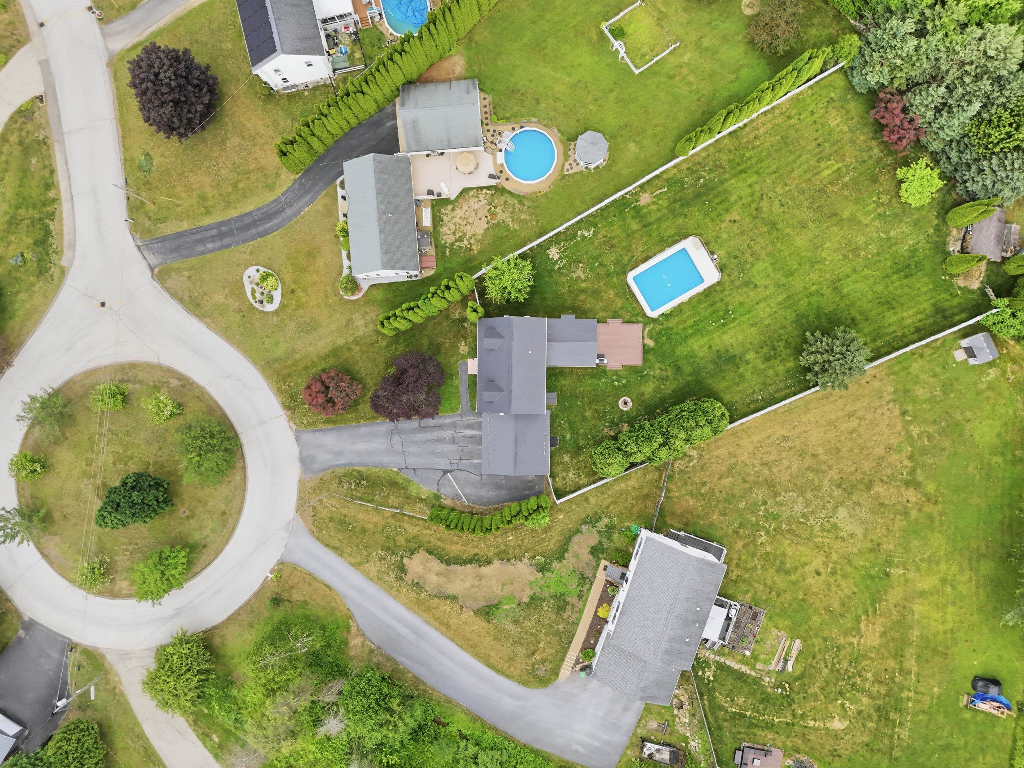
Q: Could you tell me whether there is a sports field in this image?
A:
No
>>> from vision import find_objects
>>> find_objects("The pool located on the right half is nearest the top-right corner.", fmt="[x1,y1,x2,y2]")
[626,236,720,318]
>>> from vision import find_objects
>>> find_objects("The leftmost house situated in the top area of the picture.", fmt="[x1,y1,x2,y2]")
[237,0,333,92]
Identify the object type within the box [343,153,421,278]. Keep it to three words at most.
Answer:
house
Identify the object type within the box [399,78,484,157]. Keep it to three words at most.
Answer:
building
